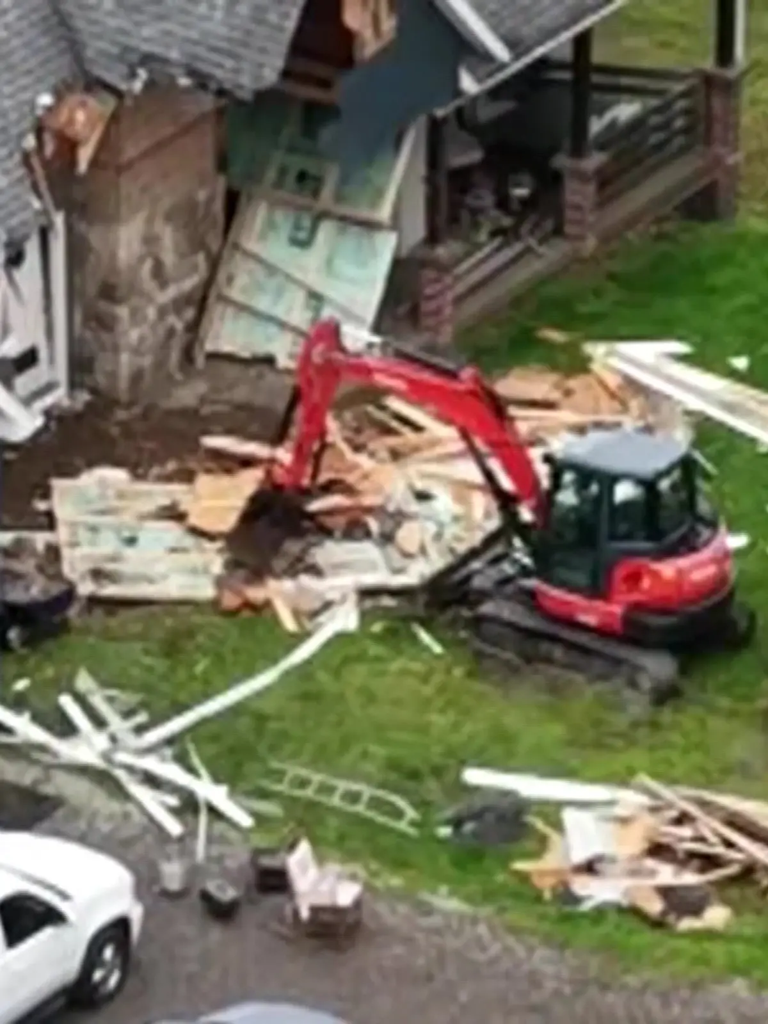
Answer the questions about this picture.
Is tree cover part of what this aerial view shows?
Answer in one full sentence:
No, the picture contains no tree cover.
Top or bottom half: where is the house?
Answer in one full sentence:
The house sits in the top half of the picture.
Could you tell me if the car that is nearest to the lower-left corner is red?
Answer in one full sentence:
No, the car that is nearest to the lower-left corner is white.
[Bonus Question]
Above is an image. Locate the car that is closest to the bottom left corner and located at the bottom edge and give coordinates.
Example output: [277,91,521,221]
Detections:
[0,812,137,1024]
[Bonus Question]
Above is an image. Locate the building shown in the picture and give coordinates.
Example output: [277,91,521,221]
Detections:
[0,0,753,445]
